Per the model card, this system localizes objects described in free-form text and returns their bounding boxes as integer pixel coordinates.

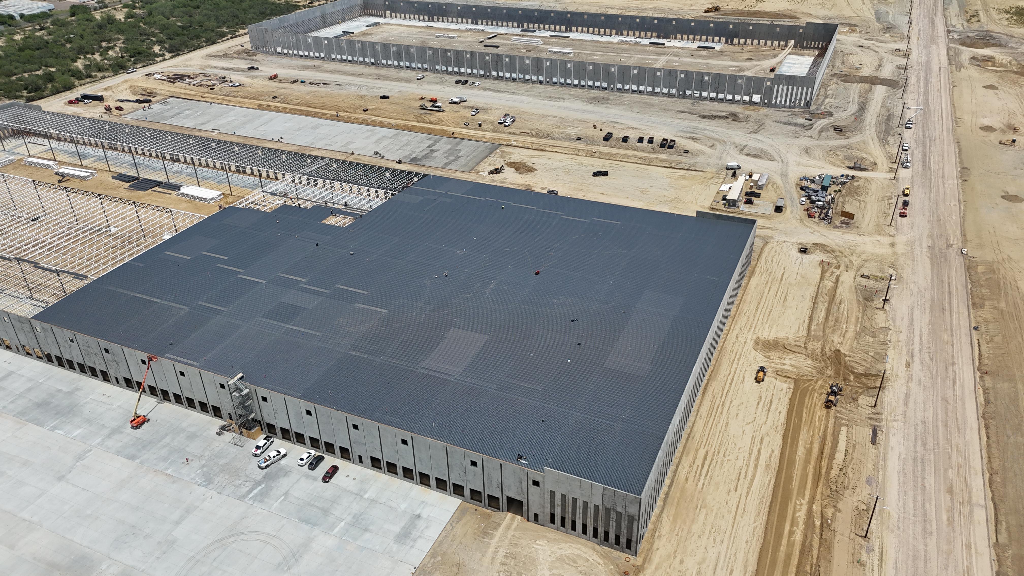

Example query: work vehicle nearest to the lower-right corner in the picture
[825,377,848,404]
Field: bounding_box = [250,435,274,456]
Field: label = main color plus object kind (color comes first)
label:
white truck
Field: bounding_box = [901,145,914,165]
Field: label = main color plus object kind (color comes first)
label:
white vehicle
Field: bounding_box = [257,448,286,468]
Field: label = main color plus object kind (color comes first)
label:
white vehicle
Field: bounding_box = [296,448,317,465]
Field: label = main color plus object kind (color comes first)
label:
white car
